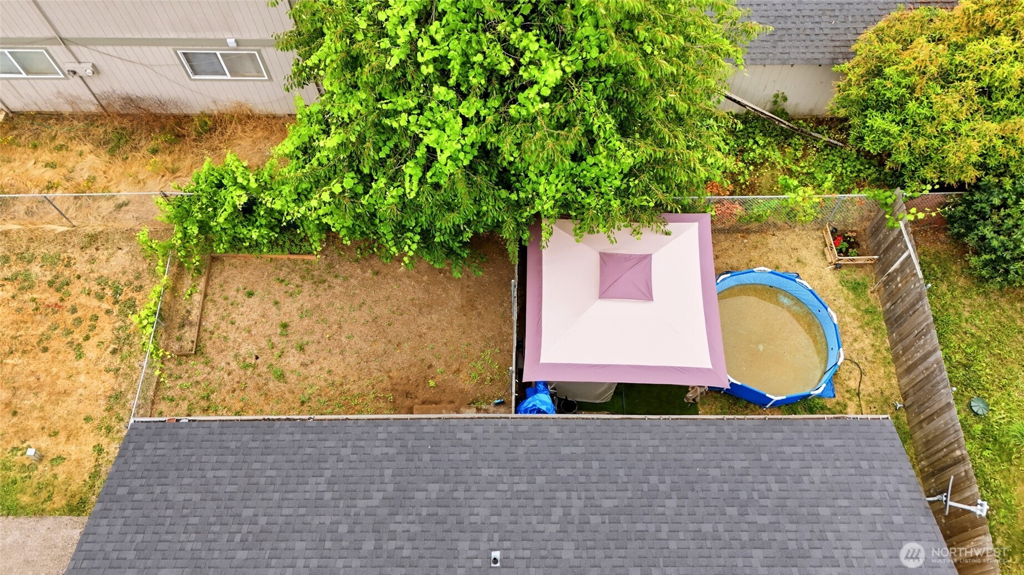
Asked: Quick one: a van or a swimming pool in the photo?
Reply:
swimming pool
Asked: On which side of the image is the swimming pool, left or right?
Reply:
right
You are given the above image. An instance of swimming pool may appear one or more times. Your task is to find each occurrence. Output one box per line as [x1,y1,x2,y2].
[695,264,846,412]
